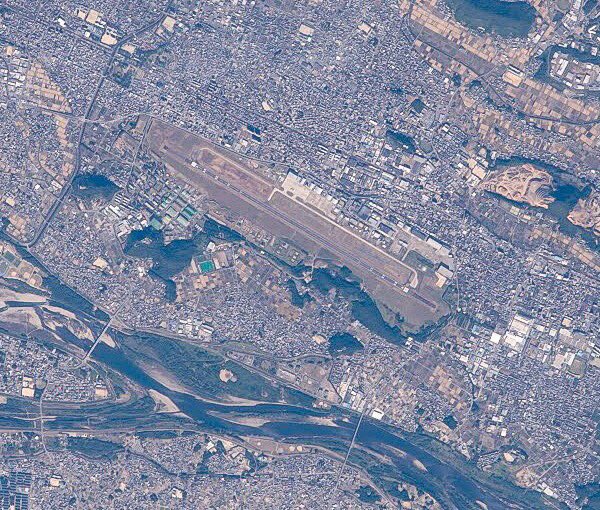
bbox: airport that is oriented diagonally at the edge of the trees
[147,117,460,331]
